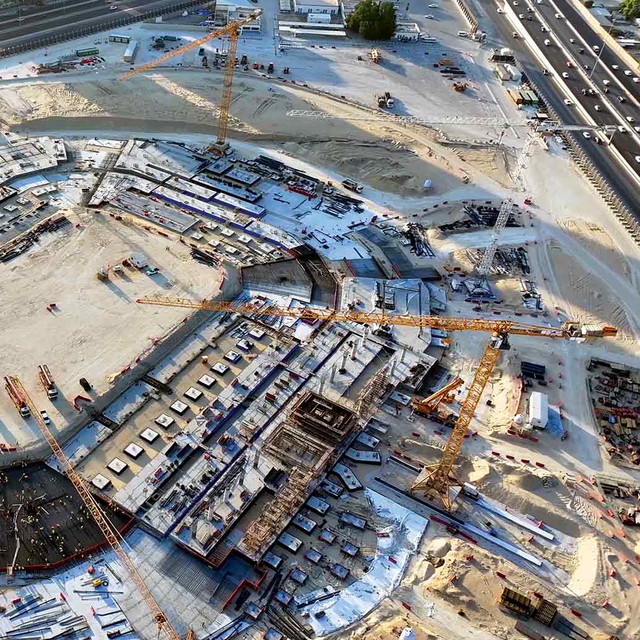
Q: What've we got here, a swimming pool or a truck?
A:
truck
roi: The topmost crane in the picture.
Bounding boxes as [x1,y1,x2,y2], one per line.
[119,13,269,162]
